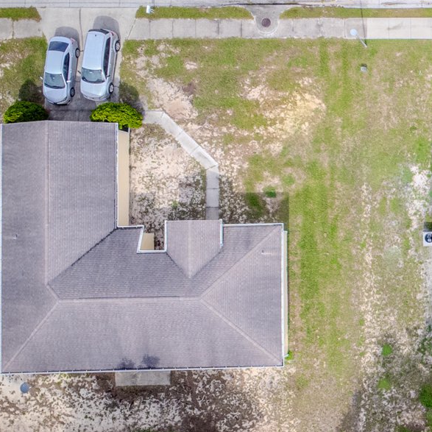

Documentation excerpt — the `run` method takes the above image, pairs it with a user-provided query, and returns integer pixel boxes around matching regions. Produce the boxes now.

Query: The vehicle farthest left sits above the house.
[38,37,78,106]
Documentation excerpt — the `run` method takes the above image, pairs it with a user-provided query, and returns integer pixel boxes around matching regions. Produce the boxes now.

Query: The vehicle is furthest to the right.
[76,29,117,102]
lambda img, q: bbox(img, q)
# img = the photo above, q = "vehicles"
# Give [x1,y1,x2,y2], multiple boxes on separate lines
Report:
[38,37,78,106]
[76,29,117,102]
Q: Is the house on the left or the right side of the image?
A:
left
